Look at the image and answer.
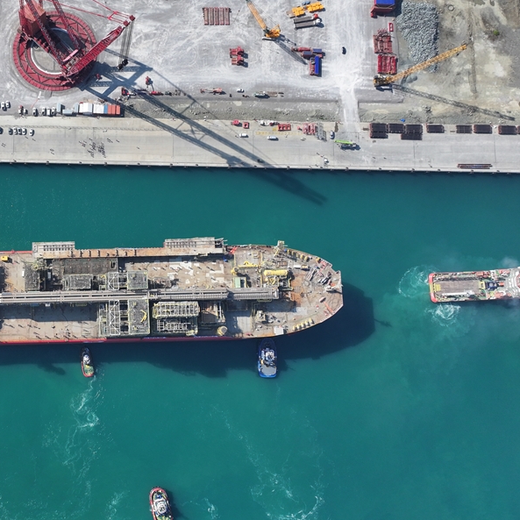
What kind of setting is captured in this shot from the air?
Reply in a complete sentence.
The area seen from above is a port.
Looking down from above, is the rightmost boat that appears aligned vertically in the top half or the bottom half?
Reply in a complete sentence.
The bottom half of the photo is where the rightmost boat that appears aligned vertically is.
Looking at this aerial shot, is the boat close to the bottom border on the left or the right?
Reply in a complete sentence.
It is on the left.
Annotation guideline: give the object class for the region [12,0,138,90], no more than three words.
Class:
crane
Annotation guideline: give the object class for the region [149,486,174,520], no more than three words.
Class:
boat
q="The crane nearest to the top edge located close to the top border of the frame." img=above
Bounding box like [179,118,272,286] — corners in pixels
[234,0,290,38]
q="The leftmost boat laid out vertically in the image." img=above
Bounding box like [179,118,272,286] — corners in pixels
[79,345,96,379]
